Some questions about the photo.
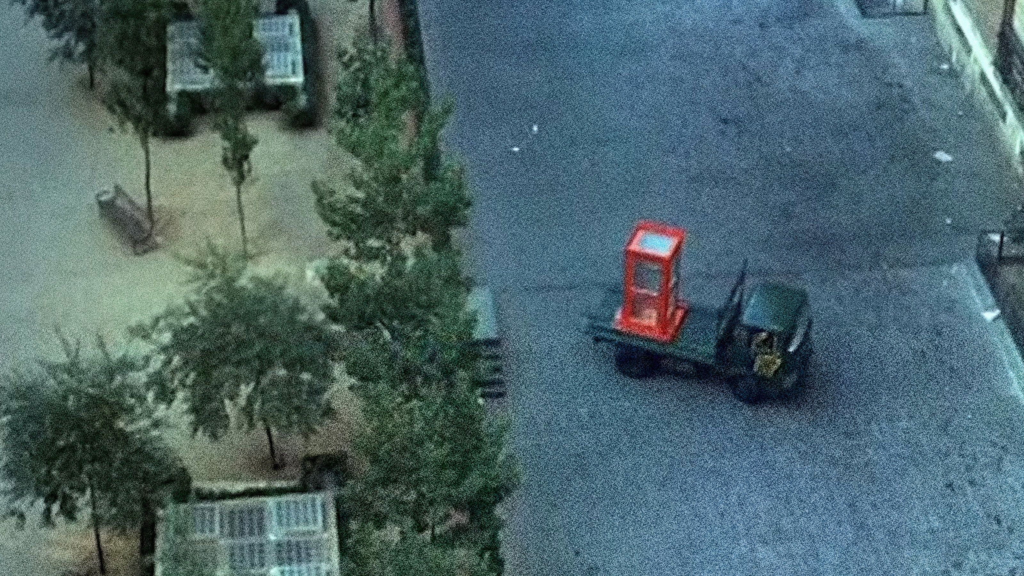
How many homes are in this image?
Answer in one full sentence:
I count no homes.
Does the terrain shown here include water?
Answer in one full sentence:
No, there is no water in the image.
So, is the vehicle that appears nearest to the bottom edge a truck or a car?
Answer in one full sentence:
It looks like the vehicle that appears nearest to the bottom edge is a truck.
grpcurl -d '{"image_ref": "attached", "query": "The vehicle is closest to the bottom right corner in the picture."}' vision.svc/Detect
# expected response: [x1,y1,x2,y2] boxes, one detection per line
[582,256,817,408]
